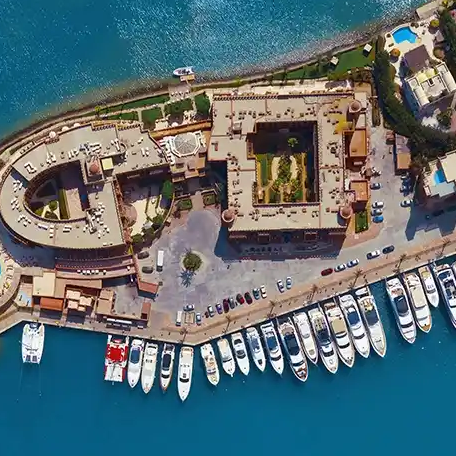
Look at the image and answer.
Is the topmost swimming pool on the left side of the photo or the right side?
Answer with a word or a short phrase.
right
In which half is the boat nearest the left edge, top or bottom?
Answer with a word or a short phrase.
bottom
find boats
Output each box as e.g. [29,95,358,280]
[386,274,415,344]
[21,324,43,366]
[262,322,283,375]
[276,317,308,381]
[141,341,158,394]
[200,343,219,386]
[308,306,336,373]
[174,69,195,79]
[402,271,430,333]
[293,311,318,365]
[356,288,386,358]
[418,267,438,308]
[160,344,175,392]
[177,346,194,402]
[433,262,456,325]
[217,337,235,376]
[337,292,368,358]
[247,327,265,373]
[128,338,144,388]
[231,332,249,376]
[322,300,352,367]
[105,337,127,384]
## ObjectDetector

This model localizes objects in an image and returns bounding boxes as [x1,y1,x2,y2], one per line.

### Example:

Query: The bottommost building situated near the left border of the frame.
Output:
[20,267,141,325]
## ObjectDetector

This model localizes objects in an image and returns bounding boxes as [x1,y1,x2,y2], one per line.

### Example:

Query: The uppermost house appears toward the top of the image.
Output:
[401,62,456,120]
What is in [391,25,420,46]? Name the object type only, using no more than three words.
swimming pool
